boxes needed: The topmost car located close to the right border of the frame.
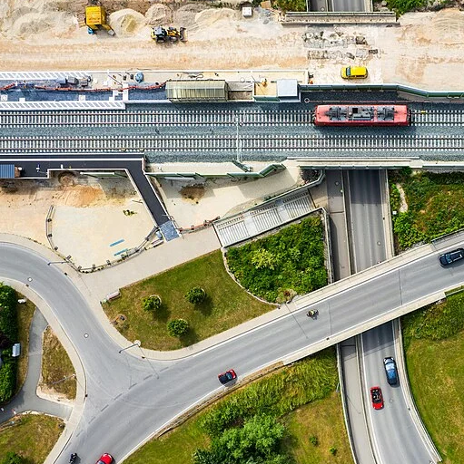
[438,247,464,265]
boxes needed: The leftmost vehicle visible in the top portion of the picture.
[150,26,187,44]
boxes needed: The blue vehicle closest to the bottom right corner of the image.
[383,356,397,383]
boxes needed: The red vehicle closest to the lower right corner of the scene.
[371,386,383,410]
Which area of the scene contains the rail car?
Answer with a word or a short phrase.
top right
